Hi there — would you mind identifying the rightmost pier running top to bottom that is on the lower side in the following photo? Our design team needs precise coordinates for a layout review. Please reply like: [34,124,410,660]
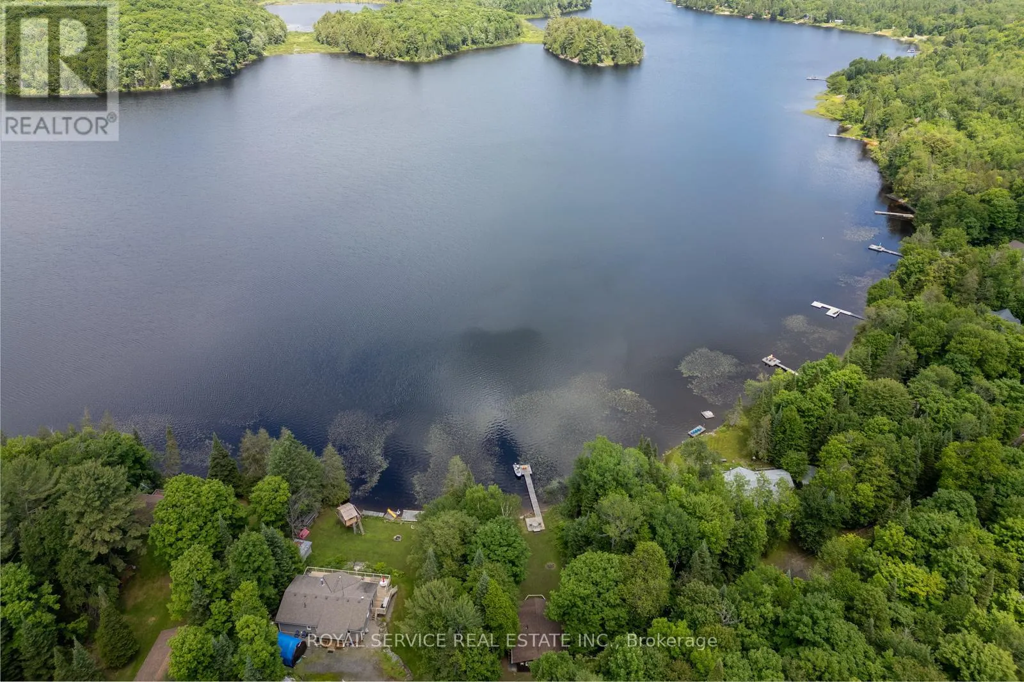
[521,461,545,515]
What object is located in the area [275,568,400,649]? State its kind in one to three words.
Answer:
house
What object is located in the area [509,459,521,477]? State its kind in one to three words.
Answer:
boat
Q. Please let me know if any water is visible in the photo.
Yes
